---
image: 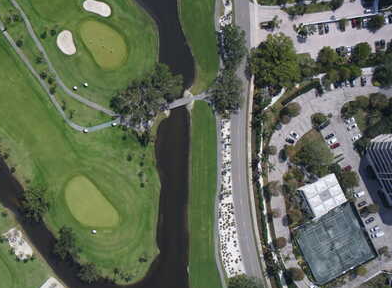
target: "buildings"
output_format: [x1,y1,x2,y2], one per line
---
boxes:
[367,135,392,196]
[296,172,347,217]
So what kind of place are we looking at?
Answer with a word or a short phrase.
golf course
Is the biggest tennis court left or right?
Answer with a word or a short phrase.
right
